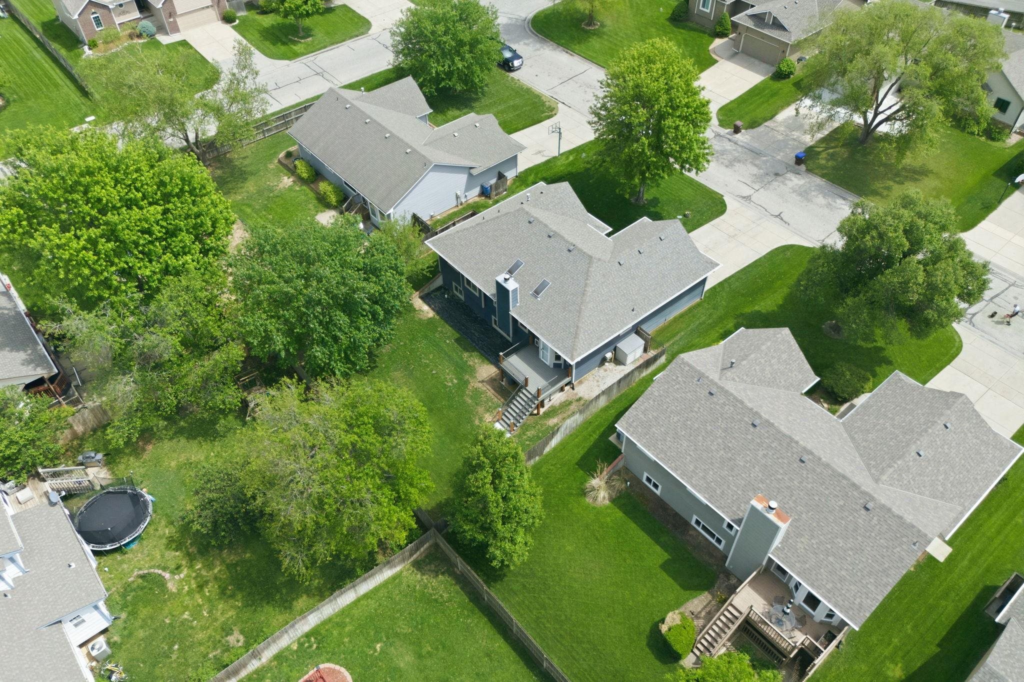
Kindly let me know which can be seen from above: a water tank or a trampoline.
trampoline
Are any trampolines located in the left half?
Yes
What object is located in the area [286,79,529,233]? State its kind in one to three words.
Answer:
house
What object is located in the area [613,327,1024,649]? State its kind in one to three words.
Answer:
house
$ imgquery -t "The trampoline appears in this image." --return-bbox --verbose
[78,475,158,556]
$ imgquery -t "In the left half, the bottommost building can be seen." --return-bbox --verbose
[0,479,128,682]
